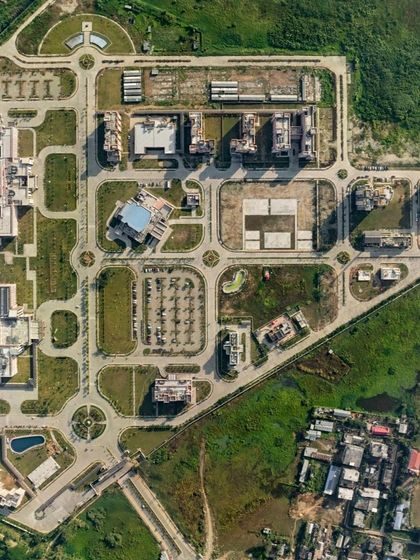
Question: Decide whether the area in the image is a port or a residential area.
residential area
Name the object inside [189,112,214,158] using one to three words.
building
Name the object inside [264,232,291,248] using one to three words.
sports court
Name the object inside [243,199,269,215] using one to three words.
sports court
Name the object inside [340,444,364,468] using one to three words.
house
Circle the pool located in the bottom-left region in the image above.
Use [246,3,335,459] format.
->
[10,436,45,452]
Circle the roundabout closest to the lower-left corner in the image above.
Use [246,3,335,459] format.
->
[71,405,106,440]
